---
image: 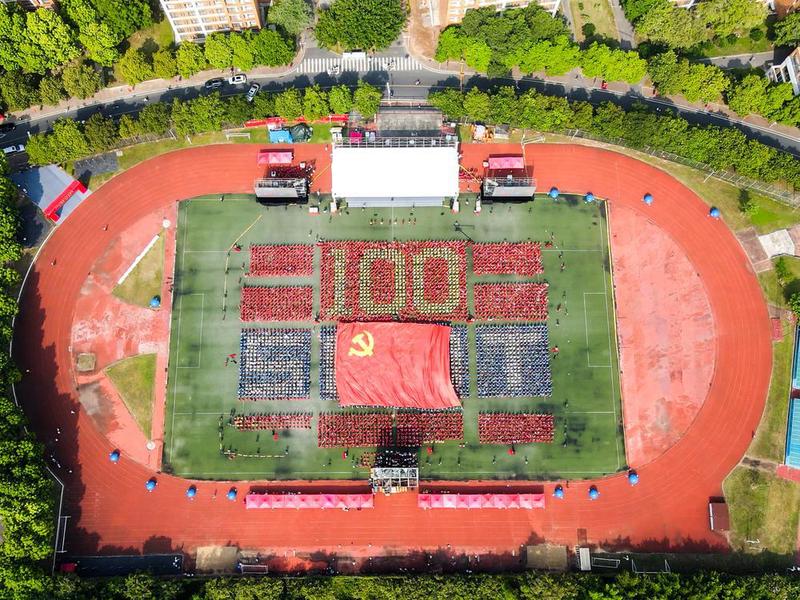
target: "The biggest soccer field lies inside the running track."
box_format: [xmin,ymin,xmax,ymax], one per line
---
[162,193,629,481]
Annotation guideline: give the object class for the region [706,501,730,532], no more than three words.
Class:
shed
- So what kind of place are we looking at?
sports ground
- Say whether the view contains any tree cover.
Yes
